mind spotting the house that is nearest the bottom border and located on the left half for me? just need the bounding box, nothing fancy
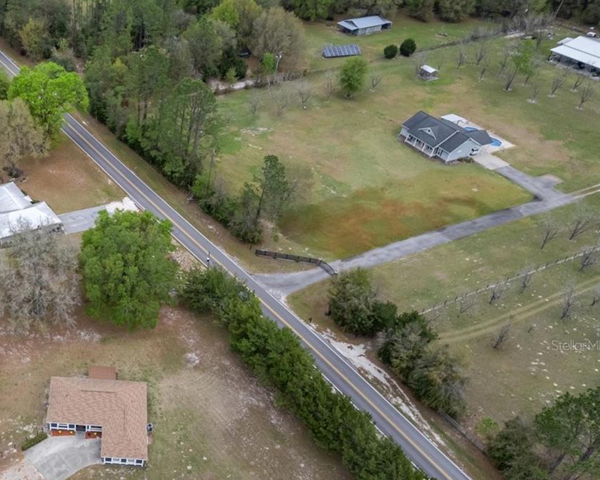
[46,370,149,467]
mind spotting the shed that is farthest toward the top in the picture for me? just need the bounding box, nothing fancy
[336,15,393,36]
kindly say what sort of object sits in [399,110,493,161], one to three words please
house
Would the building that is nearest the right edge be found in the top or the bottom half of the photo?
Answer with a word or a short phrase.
top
